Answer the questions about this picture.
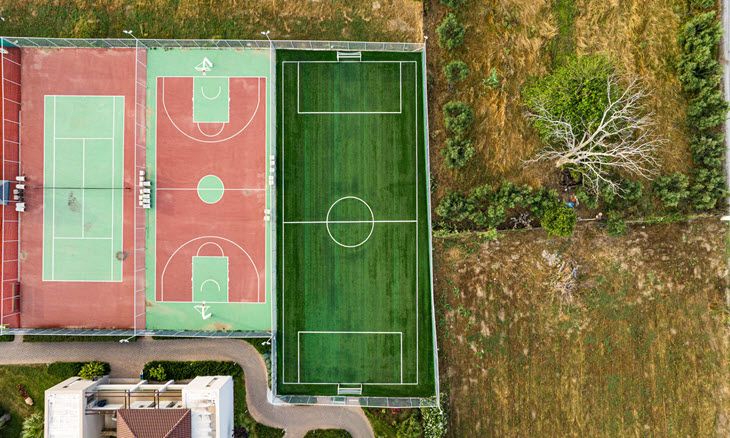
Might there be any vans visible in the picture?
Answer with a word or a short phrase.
No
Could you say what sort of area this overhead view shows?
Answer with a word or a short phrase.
sports ground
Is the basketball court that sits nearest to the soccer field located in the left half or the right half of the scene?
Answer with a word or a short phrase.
left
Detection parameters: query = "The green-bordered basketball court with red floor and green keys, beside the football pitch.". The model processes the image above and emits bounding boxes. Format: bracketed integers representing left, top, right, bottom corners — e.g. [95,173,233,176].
[146,47,271,332]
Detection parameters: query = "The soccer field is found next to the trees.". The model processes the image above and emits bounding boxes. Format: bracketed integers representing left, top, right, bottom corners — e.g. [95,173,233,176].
[277,49,435,397]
